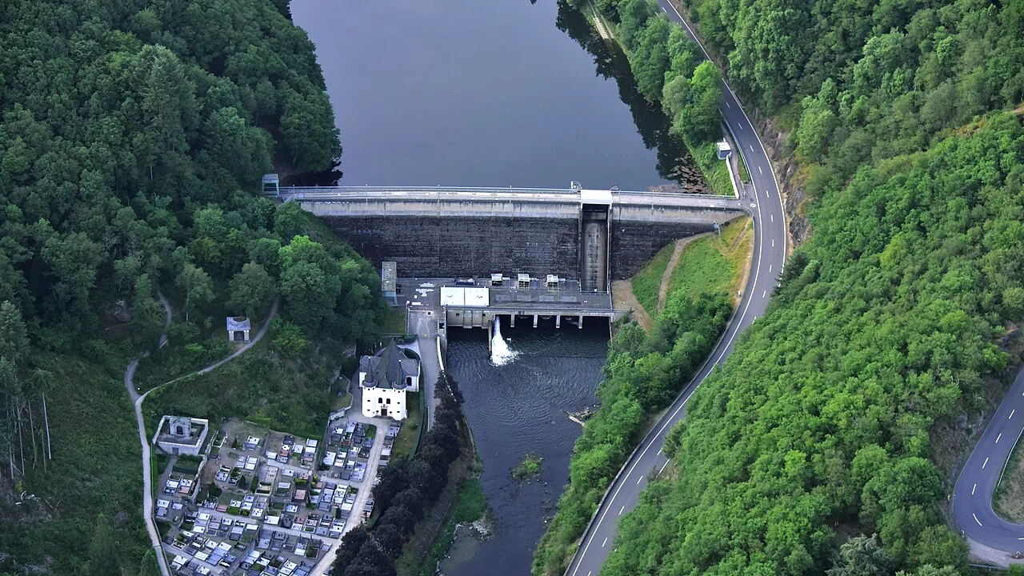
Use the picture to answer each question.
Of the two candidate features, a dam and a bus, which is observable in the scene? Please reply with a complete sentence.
Looking from above, you can make out a dam.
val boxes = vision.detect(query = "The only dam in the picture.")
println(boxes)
[280,186,735,298]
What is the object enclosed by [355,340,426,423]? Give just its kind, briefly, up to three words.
building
